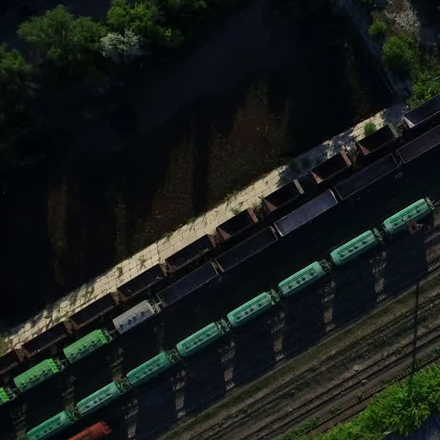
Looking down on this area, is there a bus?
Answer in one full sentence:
No, there's no bus here.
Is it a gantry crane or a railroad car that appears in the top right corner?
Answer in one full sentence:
The feature located in the top right corner is a railroad car.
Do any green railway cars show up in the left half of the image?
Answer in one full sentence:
Yes, a green railway car can be seen in the left half of the image.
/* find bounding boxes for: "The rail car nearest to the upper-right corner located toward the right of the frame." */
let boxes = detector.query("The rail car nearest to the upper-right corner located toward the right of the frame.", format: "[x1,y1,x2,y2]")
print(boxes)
[400,93,440,132]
